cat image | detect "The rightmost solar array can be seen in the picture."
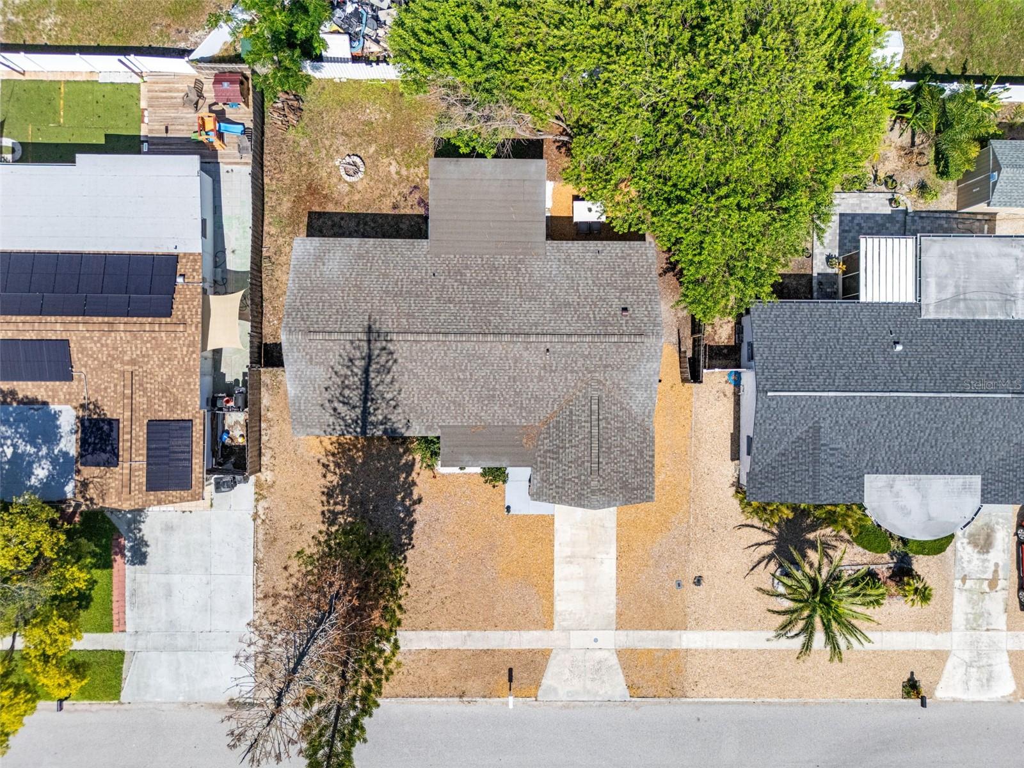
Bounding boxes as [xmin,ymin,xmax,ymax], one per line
[143,421,193,492]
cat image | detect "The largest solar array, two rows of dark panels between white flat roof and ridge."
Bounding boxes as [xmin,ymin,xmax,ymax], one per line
[0,254,177,315]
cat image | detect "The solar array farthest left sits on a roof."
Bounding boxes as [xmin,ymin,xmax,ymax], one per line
[0,340,77,382]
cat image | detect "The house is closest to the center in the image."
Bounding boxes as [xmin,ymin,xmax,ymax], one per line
[282,159,662,508]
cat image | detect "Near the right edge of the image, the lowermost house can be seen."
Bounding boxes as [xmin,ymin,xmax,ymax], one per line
[743,234,1024,539]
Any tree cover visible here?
Yes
